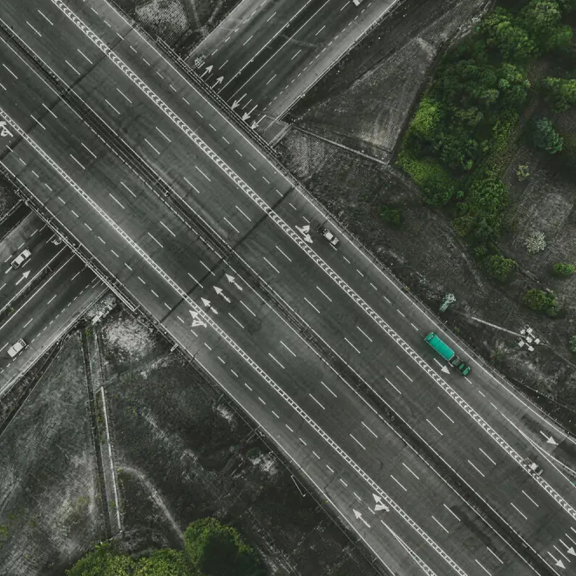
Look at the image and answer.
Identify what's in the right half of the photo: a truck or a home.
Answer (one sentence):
Looking in the right half of the photo, you will find a truck.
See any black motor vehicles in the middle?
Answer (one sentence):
No, the scene shows no black motor vehicle in the middle.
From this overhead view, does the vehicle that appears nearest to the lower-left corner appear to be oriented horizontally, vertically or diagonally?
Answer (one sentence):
In this picture, the vehicle that appears nearest to the lower-left corner lies diagonally.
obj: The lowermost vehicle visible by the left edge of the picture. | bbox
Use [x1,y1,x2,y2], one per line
[6,338,27,358]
